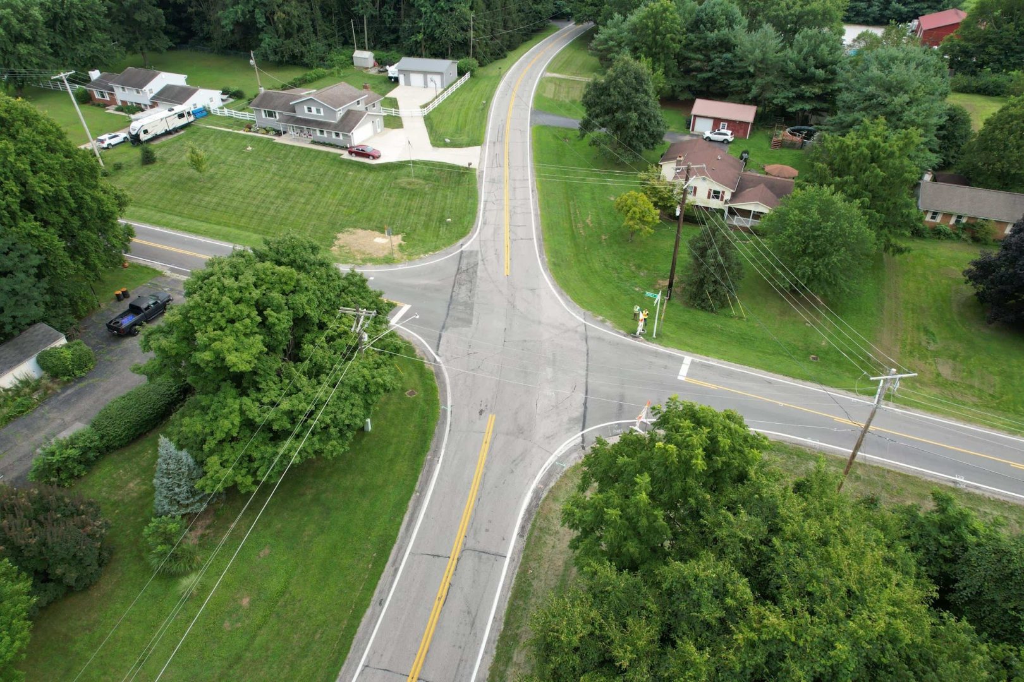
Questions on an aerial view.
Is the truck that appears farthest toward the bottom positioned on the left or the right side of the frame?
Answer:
left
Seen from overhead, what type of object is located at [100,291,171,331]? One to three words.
truck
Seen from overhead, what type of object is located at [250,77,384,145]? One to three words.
house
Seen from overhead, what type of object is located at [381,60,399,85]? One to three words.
vehicle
